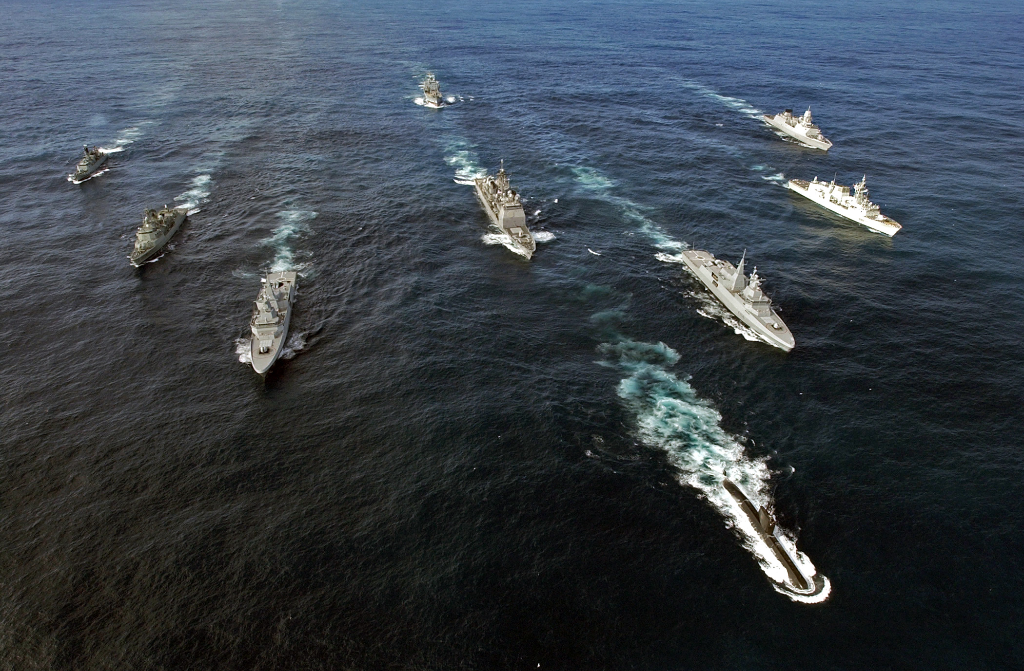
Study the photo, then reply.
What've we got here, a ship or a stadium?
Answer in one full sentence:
It is a ship that can be seen here.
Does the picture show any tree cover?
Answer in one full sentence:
No, there's no tree cover in this view.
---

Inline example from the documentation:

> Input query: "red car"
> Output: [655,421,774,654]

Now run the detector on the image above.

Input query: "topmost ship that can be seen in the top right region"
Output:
[760,107,833,152]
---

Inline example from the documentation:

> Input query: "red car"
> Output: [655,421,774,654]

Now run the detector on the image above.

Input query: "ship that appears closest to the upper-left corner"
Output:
[74,145,112,180]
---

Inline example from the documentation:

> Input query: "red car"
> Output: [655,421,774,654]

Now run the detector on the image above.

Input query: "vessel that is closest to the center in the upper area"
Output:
[471,162,537,264]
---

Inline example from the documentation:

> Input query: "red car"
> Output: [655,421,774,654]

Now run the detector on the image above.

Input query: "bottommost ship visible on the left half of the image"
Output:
[249,269,296,383]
